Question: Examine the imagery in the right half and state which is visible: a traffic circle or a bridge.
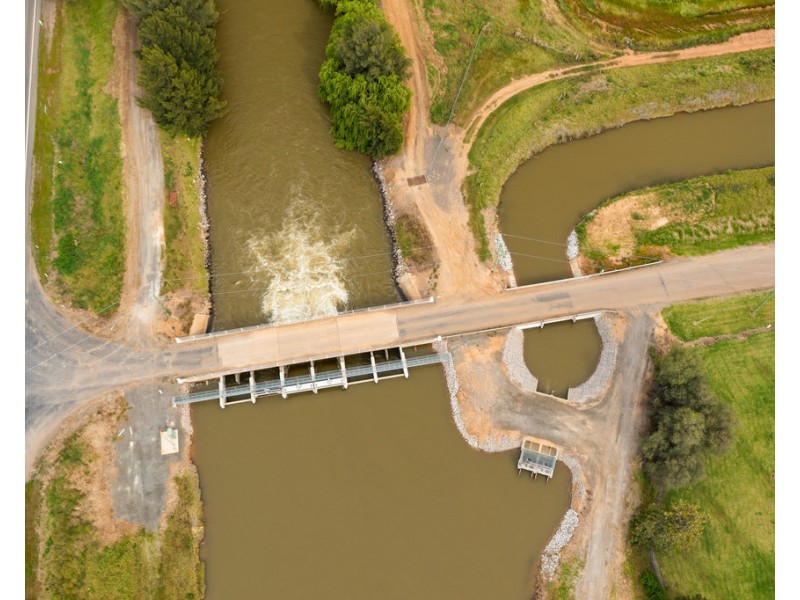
bridge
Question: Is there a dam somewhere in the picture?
Yes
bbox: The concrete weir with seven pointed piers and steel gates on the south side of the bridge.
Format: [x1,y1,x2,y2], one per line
[220,346,409,412]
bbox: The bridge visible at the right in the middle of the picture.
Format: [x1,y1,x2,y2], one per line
[505,254,662,335]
